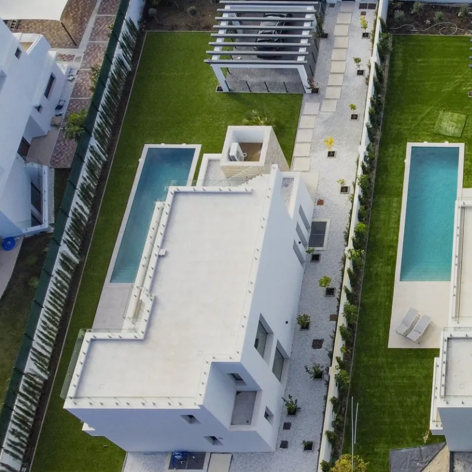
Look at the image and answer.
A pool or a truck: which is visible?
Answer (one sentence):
Visible in the photo is a pool.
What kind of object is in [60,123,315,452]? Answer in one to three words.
house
